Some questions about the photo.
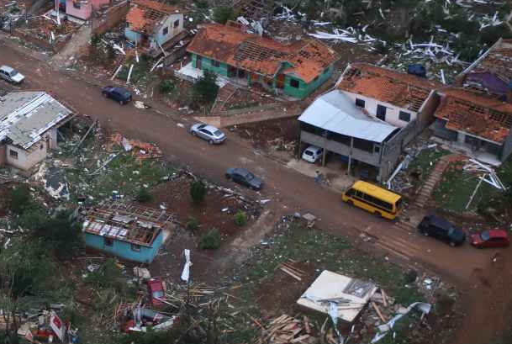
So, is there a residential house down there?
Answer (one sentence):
Yes, there's a residential house here.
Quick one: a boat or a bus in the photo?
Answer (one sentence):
Visible in the photo is a bus.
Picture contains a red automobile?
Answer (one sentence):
Yes, there's a red automobile here.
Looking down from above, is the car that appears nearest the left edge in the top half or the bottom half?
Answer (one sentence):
The car that appears nearest the left edge sits in the top half of the picture.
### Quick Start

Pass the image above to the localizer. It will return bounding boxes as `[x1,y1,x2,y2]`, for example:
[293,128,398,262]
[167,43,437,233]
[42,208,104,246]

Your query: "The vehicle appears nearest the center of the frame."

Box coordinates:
[226,167,264,190]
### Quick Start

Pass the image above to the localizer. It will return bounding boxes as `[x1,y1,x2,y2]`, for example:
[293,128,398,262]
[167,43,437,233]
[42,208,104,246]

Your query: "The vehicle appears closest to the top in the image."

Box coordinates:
[0,63,25,84]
